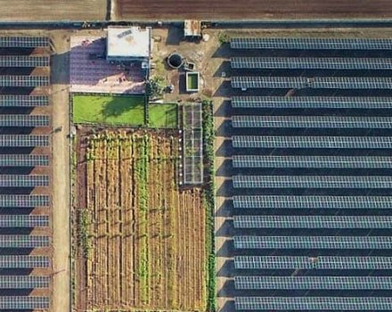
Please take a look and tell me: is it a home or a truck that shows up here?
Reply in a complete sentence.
Of the two, only a home appears.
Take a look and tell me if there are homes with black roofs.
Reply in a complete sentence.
No, the scene contains no home with a black roof.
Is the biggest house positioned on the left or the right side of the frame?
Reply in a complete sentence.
The biggest house sits on the left side.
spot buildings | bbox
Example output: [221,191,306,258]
[106,27,151,66]
[185,21,203,38]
